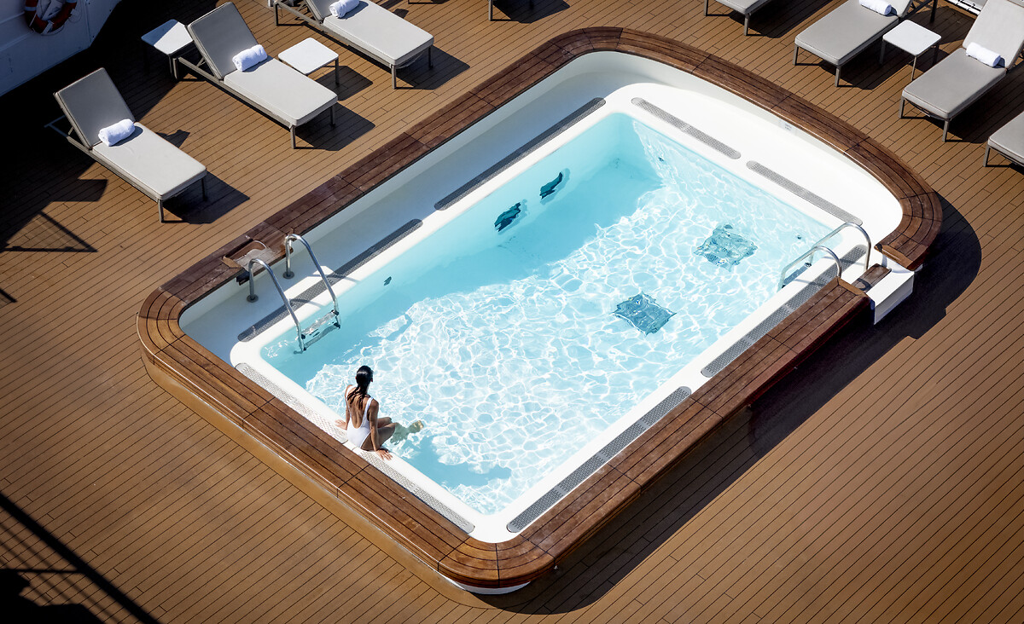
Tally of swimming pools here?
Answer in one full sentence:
Only 1 swimming pool is visible.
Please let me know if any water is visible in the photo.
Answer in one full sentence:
Yes, water shows up in the scene.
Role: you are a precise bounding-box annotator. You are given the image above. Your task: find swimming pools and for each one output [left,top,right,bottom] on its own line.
[137,24,952,612]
